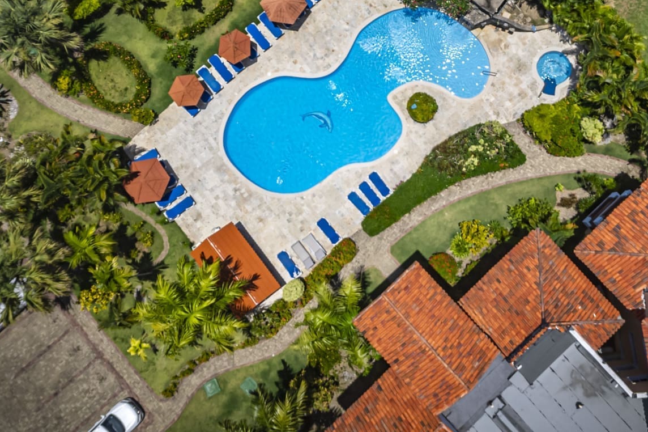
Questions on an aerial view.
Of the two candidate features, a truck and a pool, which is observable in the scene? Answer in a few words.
pool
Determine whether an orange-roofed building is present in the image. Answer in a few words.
Yes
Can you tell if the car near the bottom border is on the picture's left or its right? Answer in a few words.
left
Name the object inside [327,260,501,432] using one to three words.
house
